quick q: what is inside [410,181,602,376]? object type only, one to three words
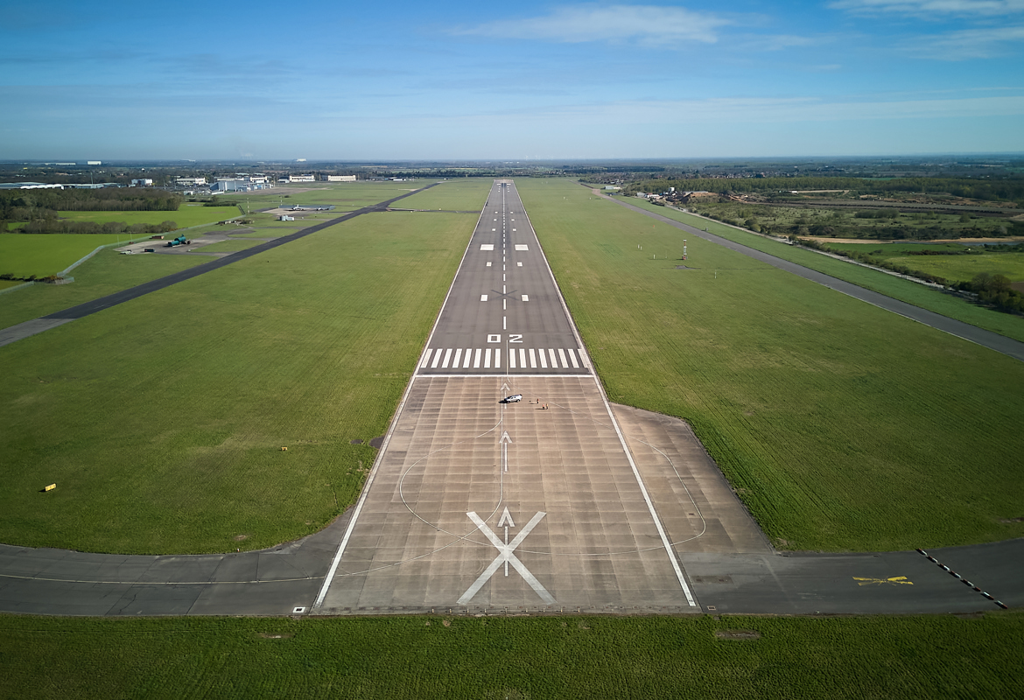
runway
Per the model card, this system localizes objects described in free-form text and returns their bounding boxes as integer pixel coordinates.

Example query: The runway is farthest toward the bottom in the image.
[306,376,709,615]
